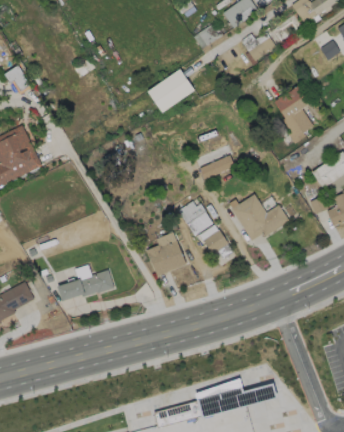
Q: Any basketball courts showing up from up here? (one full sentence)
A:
No, I can see no basketball court in this picture.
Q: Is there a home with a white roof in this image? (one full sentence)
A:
Yes, there's a home with a white roof down there.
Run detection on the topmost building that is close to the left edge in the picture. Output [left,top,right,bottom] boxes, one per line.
[5,66,30,92]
